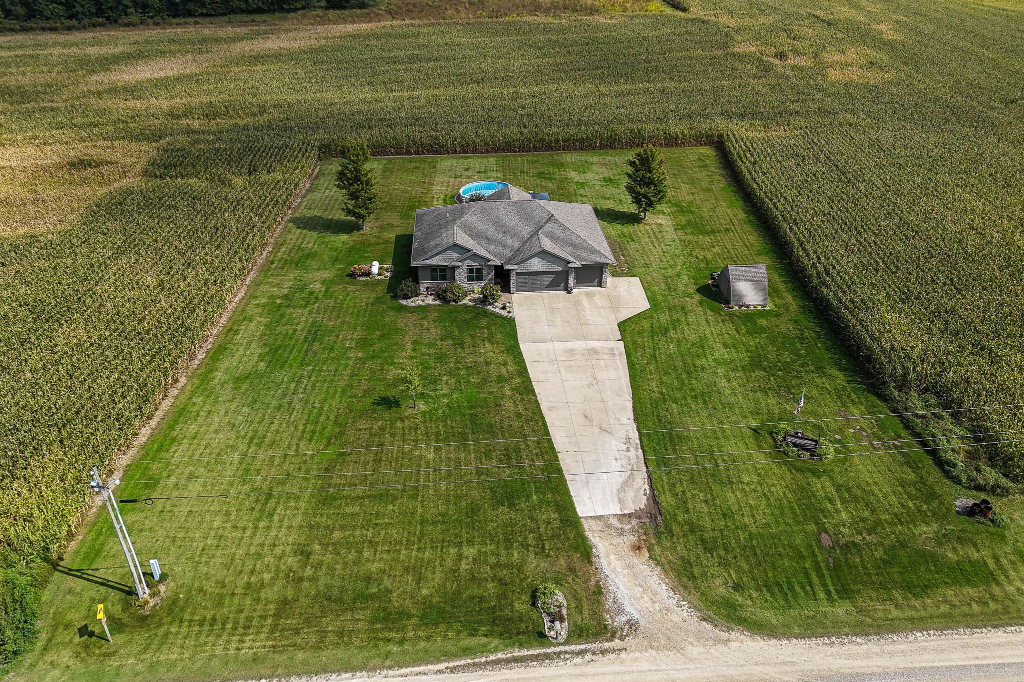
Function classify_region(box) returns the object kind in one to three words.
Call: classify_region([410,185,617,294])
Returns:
house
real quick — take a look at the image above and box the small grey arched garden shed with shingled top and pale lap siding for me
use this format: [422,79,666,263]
[718,264,768,305]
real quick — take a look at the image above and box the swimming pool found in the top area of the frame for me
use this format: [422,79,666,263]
[458,181,508,203]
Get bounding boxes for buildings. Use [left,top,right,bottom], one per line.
[410,185,617,294]
[718,264,768,305]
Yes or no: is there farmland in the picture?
Yes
